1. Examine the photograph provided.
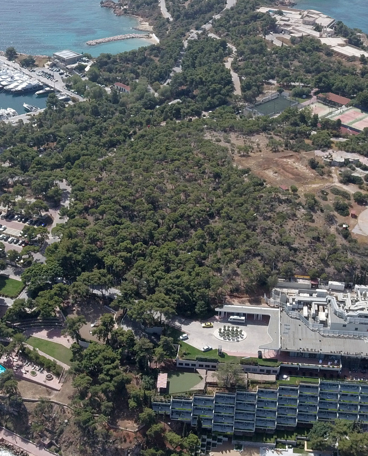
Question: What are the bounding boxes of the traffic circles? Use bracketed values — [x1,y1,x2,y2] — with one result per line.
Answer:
[212,324,248,347]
